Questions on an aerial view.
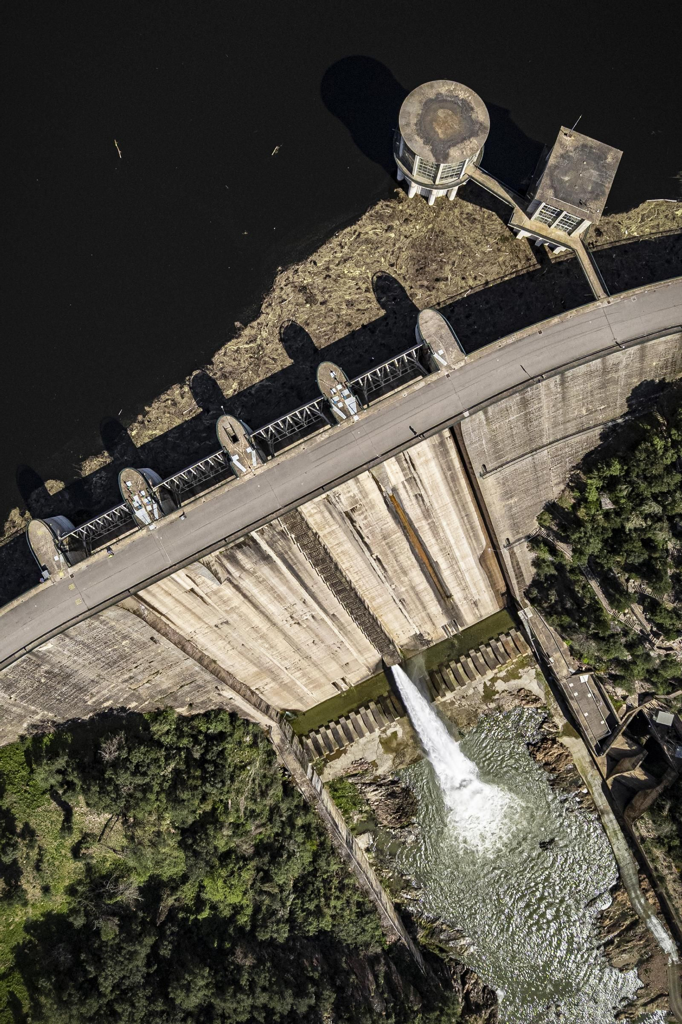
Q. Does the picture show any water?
Yes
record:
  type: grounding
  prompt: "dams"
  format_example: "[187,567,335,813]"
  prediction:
[0,276,682,746]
